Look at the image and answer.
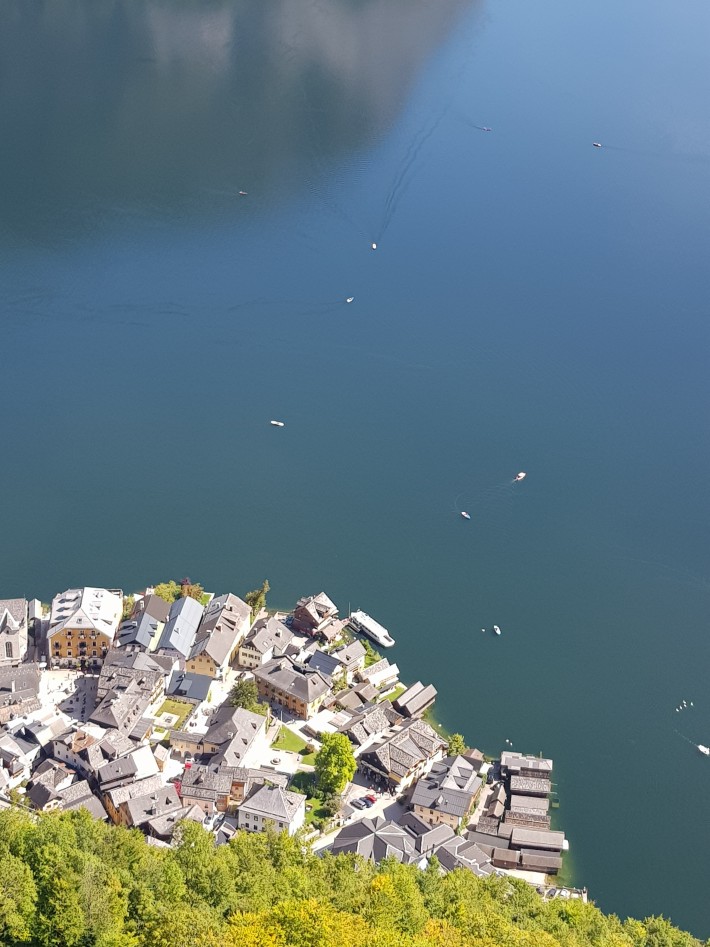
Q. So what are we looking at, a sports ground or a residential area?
residential area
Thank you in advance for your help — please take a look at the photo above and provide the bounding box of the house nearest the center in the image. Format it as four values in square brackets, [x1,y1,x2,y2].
[293,590,341,648]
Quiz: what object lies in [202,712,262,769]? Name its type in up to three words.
house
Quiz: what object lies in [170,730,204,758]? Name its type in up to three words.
house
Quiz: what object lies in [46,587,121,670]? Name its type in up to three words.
building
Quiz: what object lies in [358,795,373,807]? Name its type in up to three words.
vehicle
